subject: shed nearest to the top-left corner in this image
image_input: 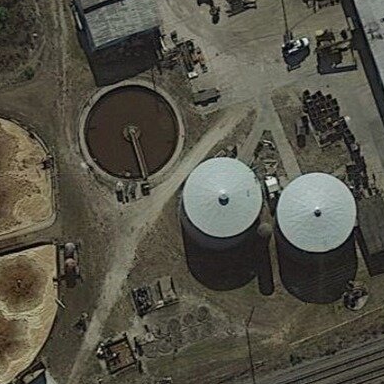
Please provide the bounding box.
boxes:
[74,0,160,56]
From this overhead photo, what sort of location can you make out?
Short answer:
industrial area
